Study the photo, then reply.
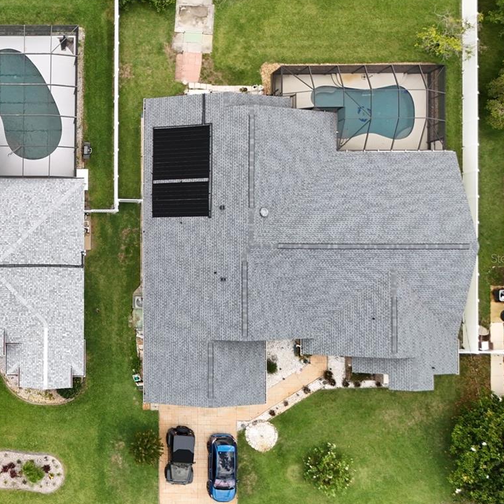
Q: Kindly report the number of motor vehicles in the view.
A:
2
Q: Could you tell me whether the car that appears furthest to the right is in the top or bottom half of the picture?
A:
bottom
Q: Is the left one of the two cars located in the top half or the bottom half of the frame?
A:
bottom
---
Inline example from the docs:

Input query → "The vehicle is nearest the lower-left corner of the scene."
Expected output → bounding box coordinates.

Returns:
[165,422,201,483]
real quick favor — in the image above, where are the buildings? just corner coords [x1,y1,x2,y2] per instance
[0,177,87,390]
[141,90,480,410]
